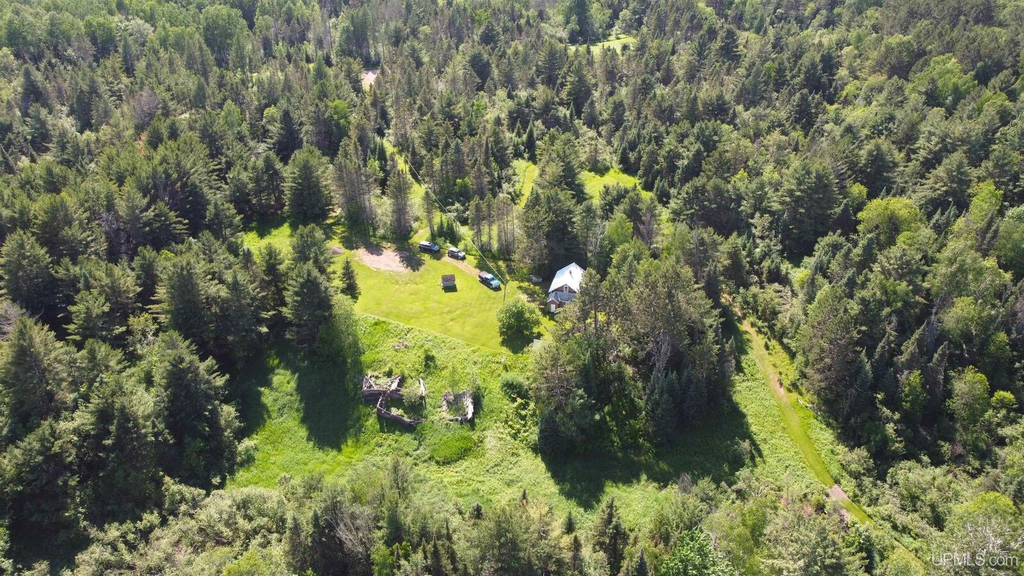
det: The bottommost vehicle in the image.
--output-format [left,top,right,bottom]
[476,272,503,288]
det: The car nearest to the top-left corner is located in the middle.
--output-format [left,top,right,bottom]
[418,240,441,253]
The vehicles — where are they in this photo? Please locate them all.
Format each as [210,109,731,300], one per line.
[446,246,467,260]
[476,272,503,288]
[418,240,441,253]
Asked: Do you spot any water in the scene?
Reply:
No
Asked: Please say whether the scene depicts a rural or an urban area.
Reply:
rural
